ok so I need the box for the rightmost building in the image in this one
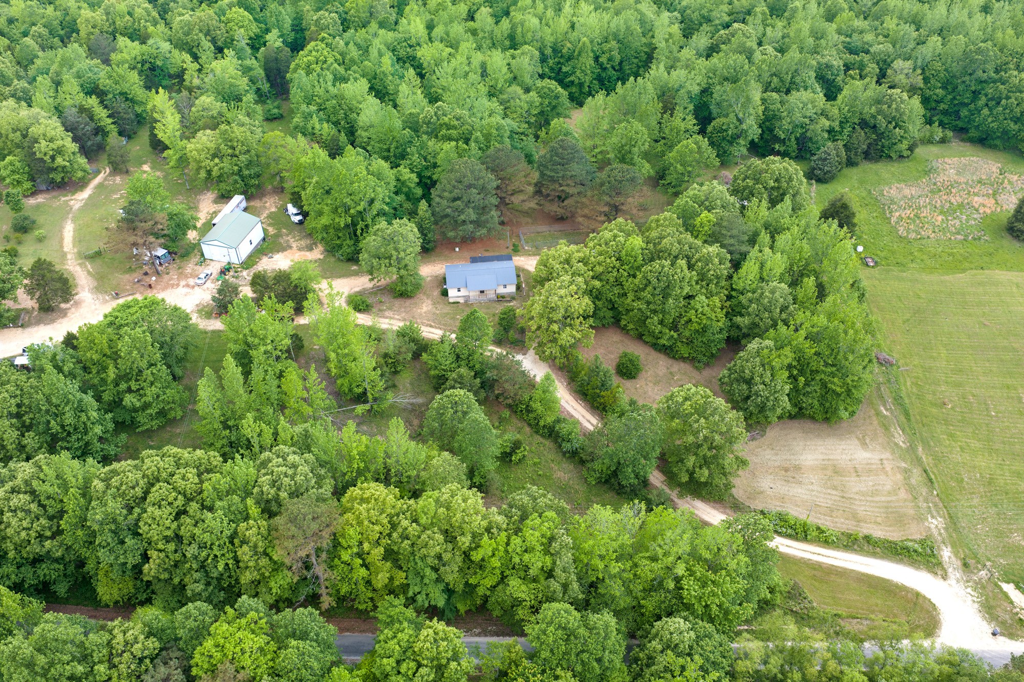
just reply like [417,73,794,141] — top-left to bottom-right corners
[446,254,517,303]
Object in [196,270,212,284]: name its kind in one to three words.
car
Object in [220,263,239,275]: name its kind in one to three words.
vehicle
